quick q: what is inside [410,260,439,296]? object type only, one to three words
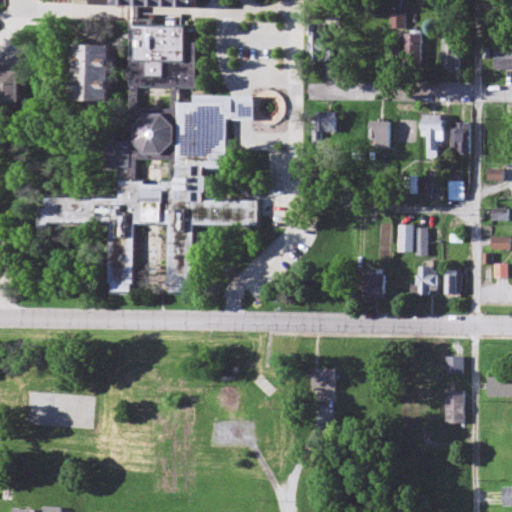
house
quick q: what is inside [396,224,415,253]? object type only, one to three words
building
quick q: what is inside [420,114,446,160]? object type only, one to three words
house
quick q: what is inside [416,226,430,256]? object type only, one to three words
building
